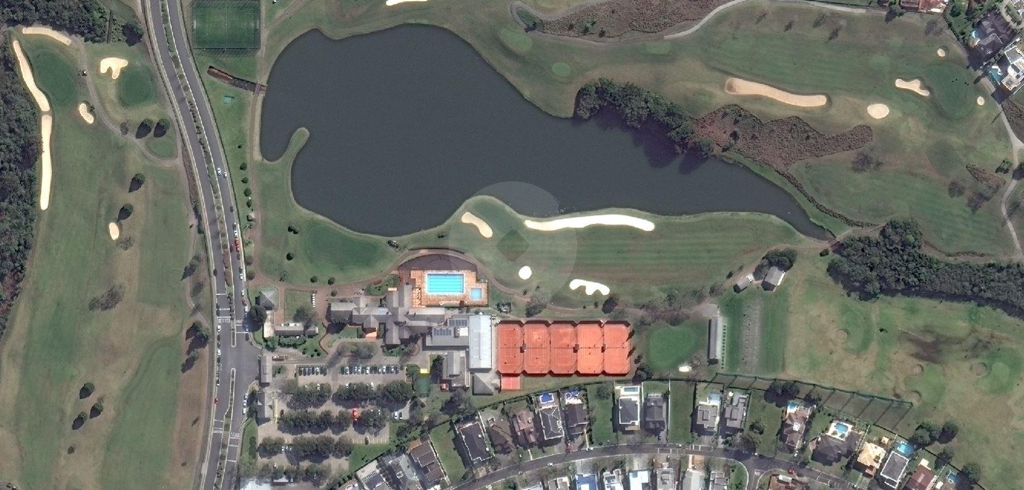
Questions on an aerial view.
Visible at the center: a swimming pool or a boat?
swimming pool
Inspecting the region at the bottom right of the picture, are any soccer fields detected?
No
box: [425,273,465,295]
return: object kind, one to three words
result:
swimming pool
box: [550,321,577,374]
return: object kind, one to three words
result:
tennis court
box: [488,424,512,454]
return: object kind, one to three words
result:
house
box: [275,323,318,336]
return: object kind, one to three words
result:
building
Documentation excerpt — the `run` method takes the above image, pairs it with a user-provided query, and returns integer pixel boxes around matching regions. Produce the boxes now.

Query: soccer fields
[193,2,260,48]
